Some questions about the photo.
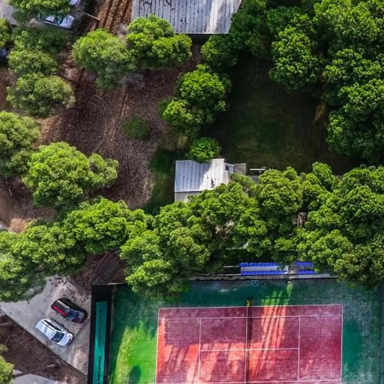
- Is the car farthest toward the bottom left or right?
left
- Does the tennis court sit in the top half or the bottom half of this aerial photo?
bottom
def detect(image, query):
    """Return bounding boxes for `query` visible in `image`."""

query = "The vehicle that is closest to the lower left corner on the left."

[34,319,74,345]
